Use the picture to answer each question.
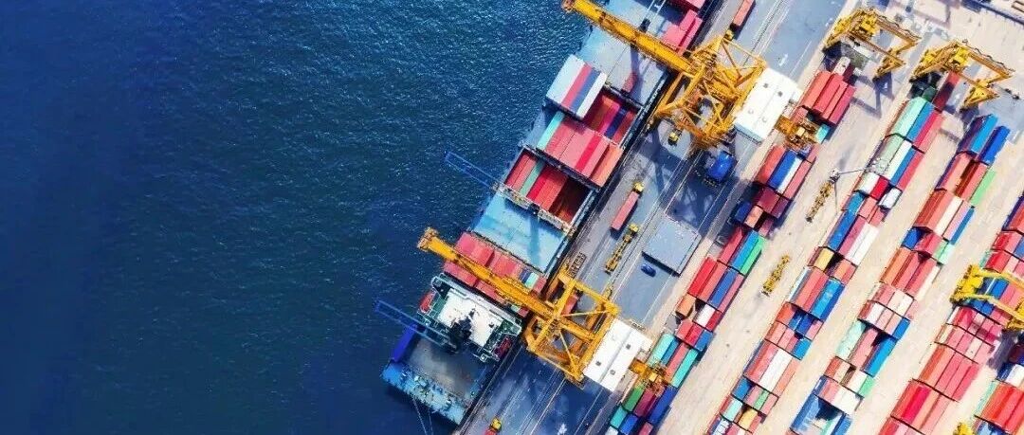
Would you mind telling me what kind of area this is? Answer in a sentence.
What you see here is a port.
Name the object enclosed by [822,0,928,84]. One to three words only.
container crane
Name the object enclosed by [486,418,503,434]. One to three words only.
vehicle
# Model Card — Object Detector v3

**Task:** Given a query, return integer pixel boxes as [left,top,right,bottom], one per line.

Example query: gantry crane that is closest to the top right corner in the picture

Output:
[910,33,1023,115]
